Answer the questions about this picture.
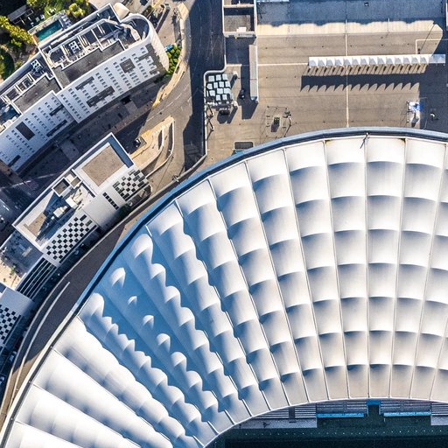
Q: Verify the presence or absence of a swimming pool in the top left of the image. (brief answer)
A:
Yes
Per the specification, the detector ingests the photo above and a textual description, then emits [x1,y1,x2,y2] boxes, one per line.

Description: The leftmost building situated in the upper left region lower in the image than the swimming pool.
[0,49,76,170]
